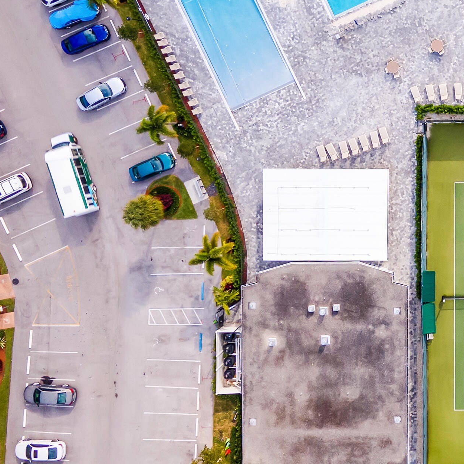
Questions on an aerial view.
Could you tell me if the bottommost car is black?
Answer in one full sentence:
No, the color of the bottommost car is white.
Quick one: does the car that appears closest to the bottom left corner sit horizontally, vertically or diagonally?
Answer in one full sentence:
I'd say the car that appears closest to the bottom left corner is aligned horizontally in the picture.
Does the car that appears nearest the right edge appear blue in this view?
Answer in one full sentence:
Yes, the car that appears nearest the right edge is indeed blue.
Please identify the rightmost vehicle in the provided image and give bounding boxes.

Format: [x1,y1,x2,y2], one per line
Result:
[128,152,177,183]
